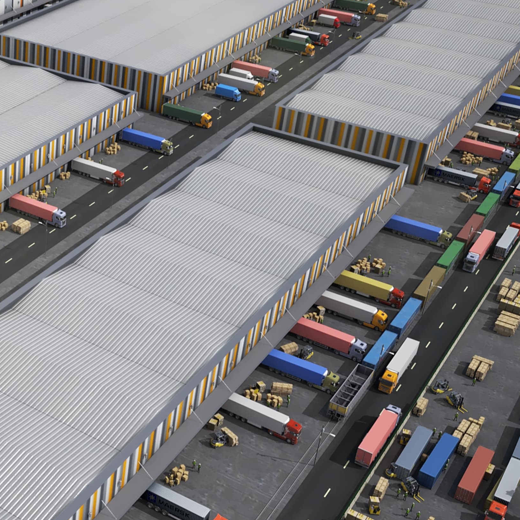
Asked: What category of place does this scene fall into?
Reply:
industrial area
